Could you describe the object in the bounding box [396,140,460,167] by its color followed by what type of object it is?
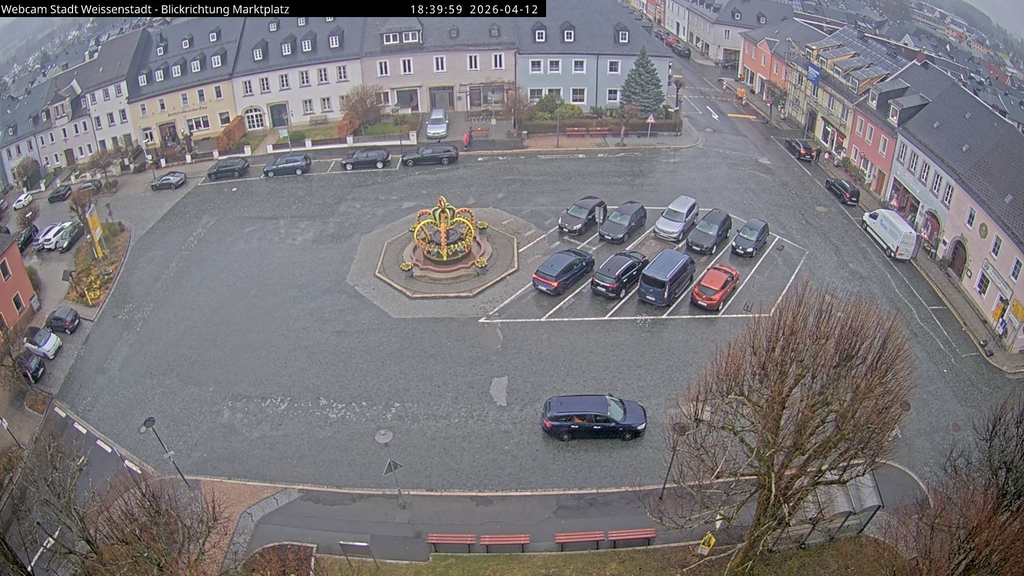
gray car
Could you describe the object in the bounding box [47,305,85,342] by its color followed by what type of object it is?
gray car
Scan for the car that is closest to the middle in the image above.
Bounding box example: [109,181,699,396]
[527,245,601,300]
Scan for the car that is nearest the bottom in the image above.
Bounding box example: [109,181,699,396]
[540,398,649,450]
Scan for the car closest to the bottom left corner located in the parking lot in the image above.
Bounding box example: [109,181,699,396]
[16,351,51,391]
